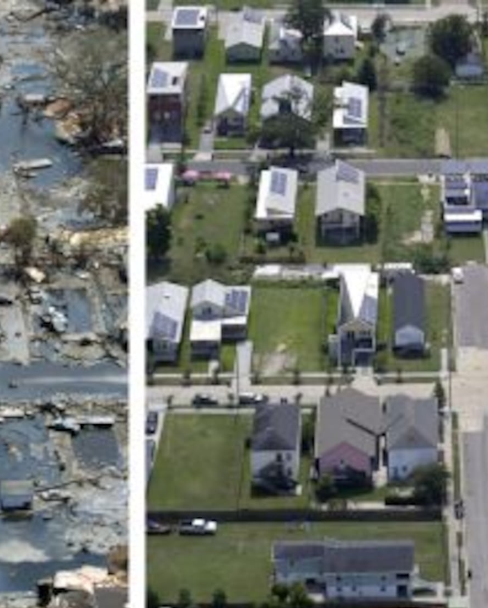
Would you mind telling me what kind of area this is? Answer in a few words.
residential area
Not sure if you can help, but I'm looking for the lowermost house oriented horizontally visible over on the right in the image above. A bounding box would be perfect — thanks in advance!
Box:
[277,535,414,596]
